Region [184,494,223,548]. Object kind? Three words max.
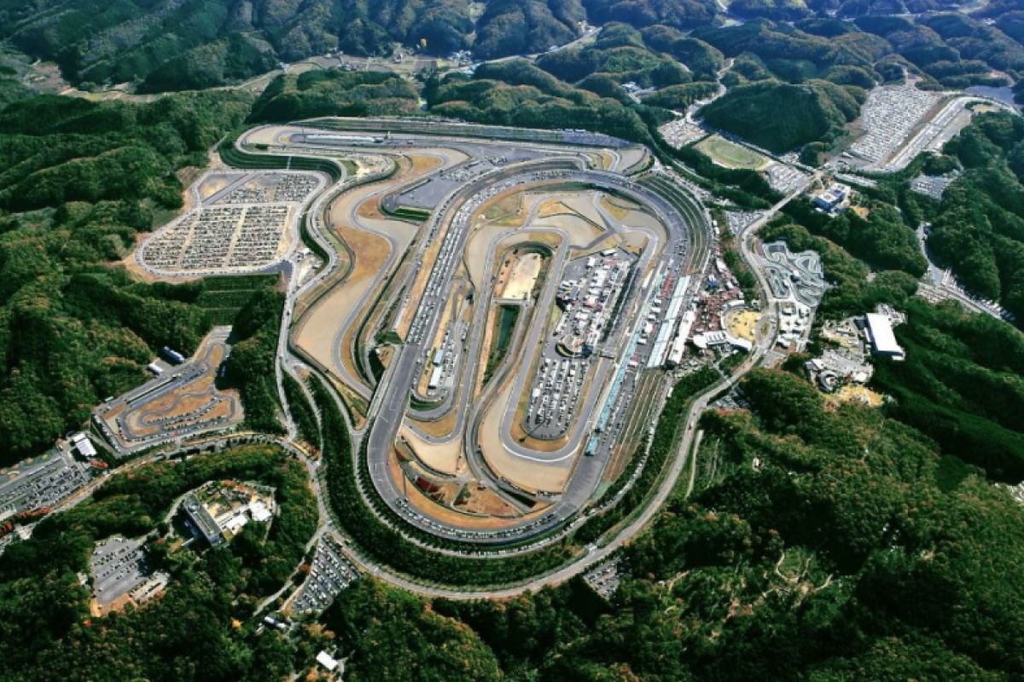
building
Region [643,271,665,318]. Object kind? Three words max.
building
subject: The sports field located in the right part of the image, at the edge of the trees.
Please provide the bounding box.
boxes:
[693,133,775,170]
